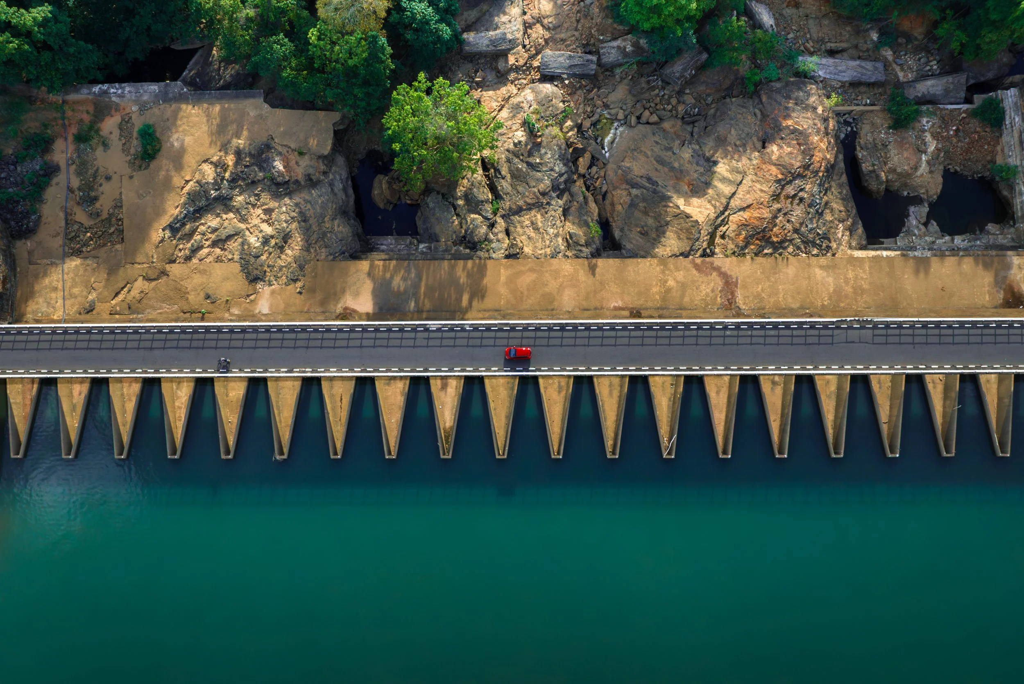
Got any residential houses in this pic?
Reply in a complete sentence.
No, there appears to be no residential house in this shot.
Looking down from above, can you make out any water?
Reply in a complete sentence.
Yes, there is water in the image.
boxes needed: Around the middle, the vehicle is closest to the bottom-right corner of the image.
[505,345,532,360]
